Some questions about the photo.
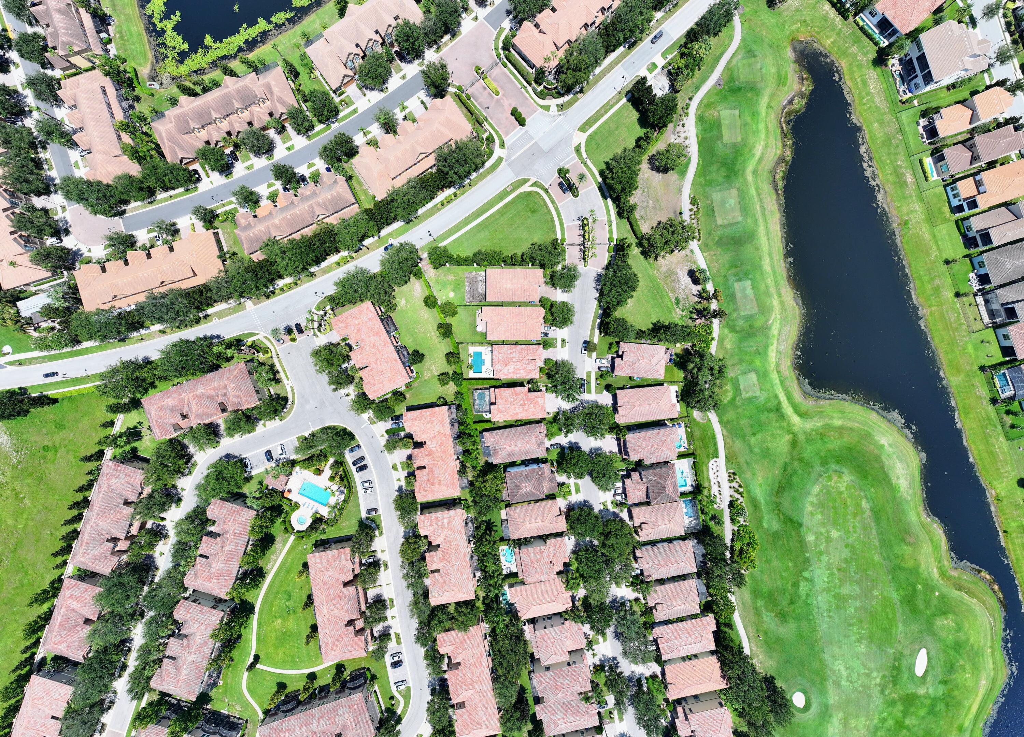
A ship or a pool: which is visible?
pool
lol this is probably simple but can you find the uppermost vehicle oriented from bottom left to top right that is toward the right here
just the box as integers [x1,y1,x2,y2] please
[650,30,664,44]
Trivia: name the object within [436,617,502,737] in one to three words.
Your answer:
building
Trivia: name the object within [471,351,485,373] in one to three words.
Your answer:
swimming pool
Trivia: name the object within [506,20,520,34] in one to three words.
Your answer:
car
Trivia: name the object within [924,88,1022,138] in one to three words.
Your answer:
house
